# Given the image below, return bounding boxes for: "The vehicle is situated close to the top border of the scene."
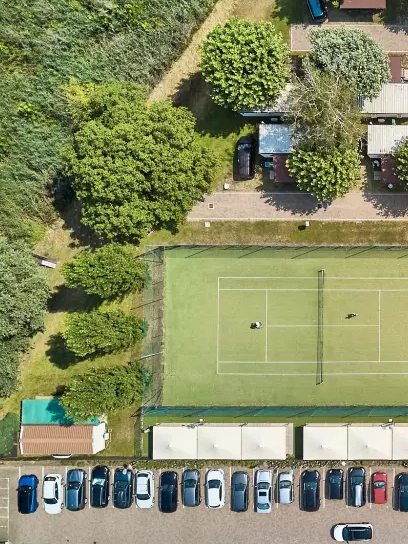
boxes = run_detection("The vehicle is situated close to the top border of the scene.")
[306,0,327,22]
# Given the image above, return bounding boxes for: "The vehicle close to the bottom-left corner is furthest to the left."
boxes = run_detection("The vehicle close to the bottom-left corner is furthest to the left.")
[17,474,40,514]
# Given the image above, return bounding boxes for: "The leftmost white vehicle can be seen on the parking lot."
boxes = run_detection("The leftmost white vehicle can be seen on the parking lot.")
[41,475,64,514]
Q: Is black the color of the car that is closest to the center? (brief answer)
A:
Yes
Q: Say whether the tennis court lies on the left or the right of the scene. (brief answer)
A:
right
